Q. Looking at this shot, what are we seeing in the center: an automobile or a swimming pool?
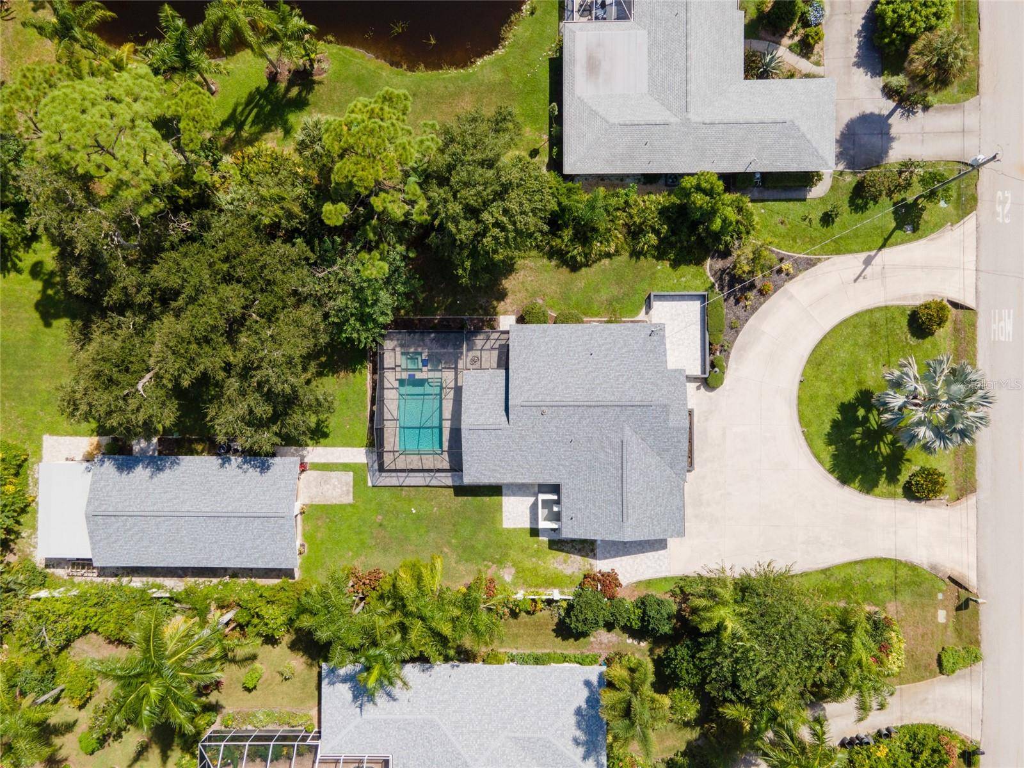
swimming pool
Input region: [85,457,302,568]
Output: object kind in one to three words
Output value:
shed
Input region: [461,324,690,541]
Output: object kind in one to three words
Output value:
house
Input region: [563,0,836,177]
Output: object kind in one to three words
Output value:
house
